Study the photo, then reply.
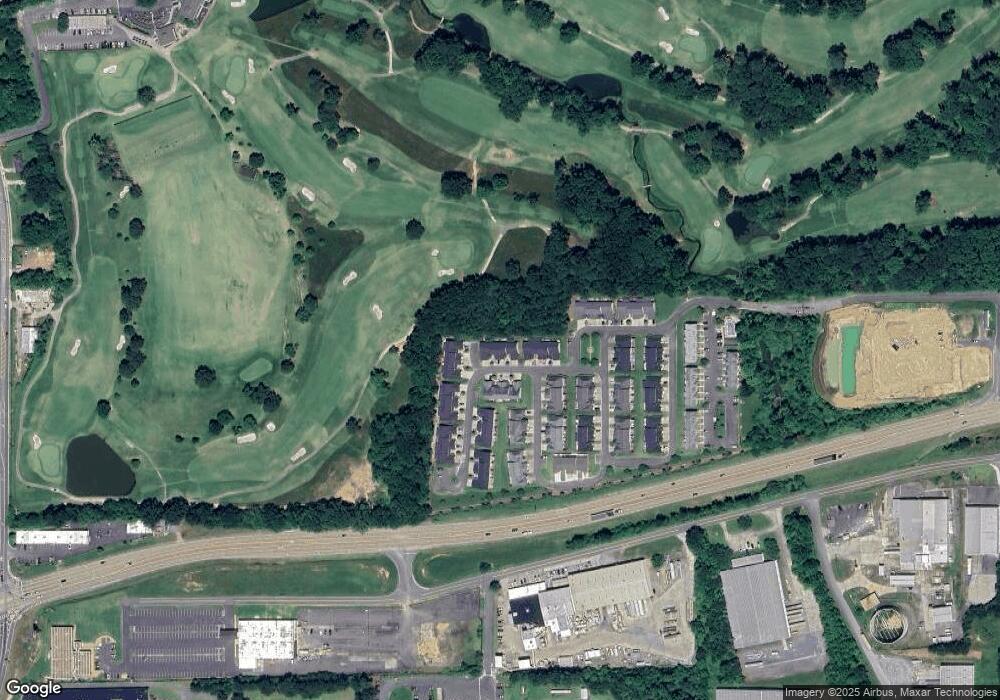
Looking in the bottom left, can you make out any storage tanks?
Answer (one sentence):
No, the scene shows no storage tank in the bottom left.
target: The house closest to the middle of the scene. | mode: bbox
[479,341,519,362]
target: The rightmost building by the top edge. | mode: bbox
[156,23,179,47]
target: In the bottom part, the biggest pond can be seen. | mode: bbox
[66,434,136,496]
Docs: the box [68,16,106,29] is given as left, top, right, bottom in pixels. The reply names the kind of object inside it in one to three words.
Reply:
barn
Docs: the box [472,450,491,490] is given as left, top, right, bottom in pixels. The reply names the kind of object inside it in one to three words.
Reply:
house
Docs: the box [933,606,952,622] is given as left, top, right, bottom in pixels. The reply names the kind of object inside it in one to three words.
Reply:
shed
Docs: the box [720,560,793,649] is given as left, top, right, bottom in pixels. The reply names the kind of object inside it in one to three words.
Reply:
building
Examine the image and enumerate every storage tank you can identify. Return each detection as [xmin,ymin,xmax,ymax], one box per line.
[870,607,908,644]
